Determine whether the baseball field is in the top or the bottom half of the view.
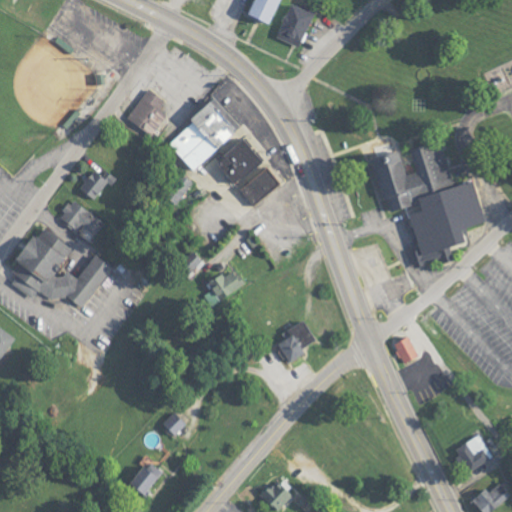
top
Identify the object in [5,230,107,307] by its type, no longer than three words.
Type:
building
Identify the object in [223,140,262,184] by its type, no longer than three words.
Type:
building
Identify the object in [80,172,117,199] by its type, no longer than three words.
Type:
house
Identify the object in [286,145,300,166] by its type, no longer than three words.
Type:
vehicle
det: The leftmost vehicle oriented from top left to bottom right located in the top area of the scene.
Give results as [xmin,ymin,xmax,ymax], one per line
[86,158,104,174]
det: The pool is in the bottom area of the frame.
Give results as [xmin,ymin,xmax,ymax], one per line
[144,432,164,449]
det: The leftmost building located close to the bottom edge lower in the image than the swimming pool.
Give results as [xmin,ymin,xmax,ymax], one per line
[134,464,163,496]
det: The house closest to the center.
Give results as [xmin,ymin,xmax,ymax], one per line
[214,270,245,297]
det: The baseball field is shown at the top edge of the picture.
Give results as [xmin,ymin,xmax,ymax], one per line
[0,10,96,177]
